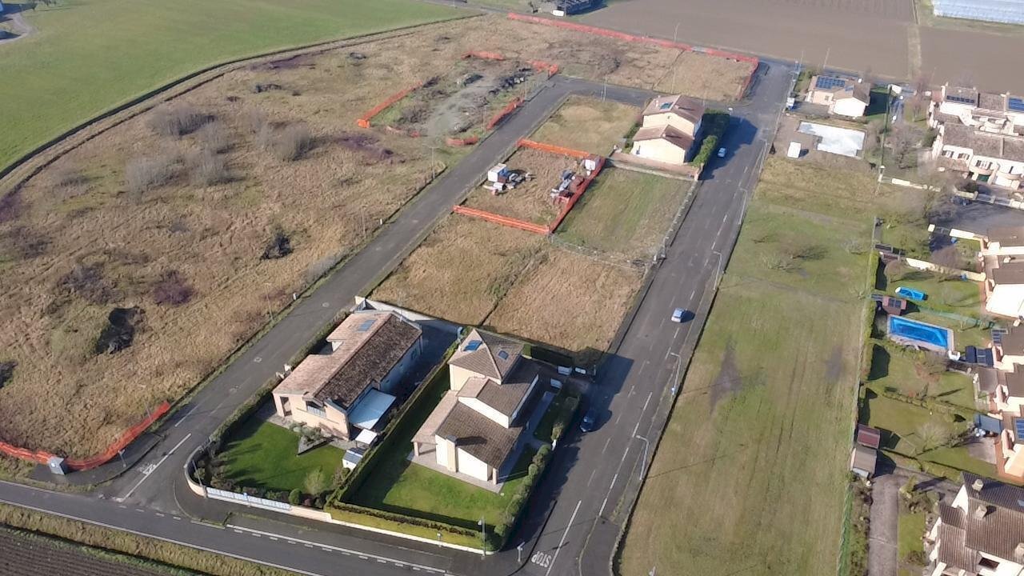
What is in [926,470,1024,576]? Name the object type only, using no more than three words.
house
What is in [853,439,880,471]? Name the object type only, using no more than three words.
shed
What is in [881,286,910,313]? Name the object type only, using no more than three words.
shed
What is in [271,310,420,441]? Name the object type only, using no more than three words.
house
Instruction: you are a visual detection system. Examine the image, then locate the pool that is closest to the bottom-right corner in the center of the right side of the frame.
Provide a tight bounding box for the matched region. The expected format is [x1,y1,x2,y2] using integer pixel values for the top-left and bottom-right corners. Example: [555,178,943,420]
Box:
[882,311,957,356]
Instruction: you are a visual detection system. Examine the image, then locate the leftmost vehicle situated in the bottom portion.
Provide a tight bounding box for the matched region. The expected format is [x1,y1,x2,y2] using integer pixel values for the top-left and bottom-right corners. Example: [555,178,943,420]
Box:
[579,408,597,431]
